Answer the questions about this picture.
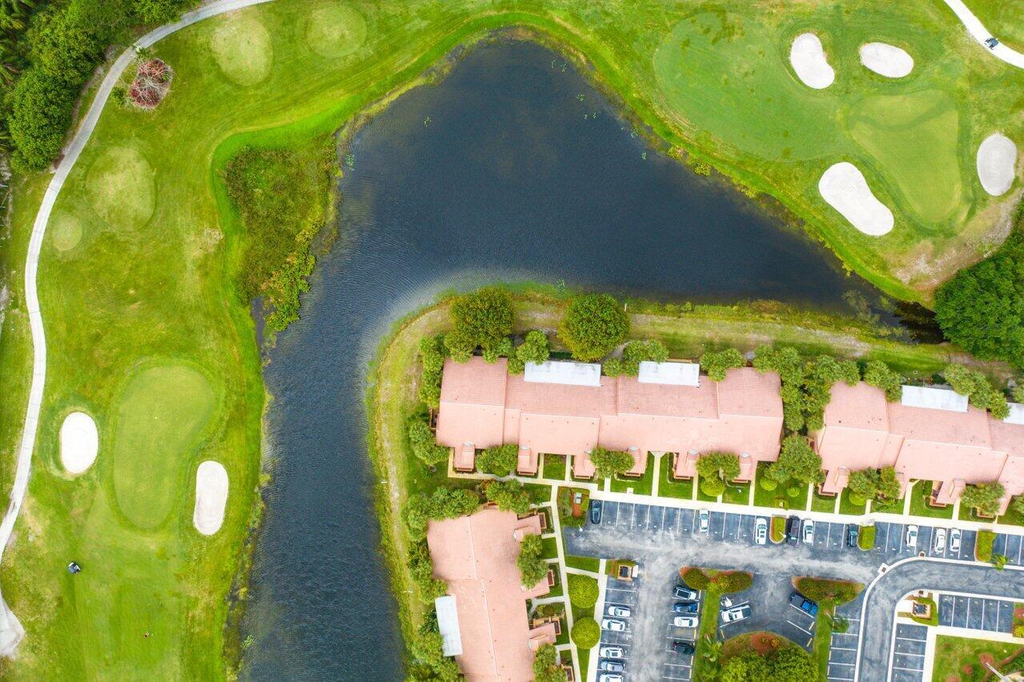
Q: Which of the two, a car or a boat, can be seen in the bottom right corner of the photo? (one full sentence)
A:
The feature located in the bottom right corner of the photo is a car.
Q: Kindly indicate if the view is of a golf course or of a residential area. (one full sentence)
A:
This image shows a golf course.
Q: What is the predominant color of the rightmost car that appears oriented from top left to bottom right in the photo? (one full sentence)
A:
The rightmost car that appears oriented from top left to bottom right looks blue in the image.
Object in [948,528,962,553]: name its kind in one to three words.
car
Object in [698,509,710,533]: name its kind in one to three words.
vehicle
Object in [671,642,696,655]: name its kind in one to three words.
vehicle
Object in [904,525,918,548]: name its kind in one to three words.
car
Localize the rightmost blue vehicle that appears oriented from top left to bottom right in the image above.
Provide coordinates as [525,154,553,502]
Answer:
[789,592,819,616]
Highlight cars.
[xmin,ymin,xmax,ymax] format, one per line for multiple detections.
[904,525,918,548]
[786,517,800,546]
[948,528,962,553]
[846,524,859,548]
[599,646,624,659]
[720,605,753,622]
[673,616,699,628]
[933,527,947,553]
[600,660,625,673]
[673,585,699,601]
[671,642,696,655]
[599,673,624,682]
[673,601,698,614]
[601,618,626,631]
[789,592,819,616]
[754,518,767,545]
[698,509,710,533]
[608,605,631,618]
[801,519,814,545]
